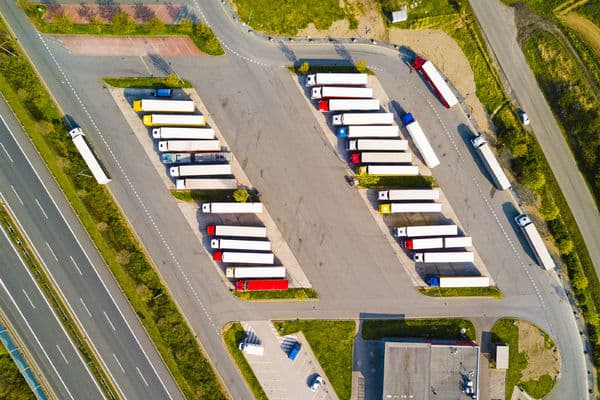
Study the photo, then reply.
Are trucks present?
Yes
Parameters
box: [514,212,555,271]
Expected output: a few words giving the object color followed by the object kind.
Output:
white truck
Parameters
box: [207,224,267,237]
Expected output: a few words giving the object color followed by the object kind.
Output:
white vehicle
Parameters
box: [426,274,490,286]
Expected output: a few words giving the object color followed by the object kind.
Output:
white vehicle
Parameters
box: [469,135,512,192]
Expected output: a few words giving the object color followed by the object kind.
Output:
white truck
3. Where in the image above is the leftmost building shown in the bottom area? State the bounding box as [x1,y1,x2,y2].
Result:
[384,340,432,400]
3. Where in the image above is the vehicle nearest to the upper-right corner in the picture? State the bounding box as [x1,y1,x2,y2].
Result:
[518,111,530,127]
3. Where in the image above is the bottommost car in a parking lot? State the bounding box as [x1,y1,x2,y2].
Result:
[309,373,323,391]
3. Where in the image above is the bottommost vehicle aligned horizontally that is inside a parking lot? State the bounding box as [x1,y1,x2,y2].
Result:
[240,341,265,355]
